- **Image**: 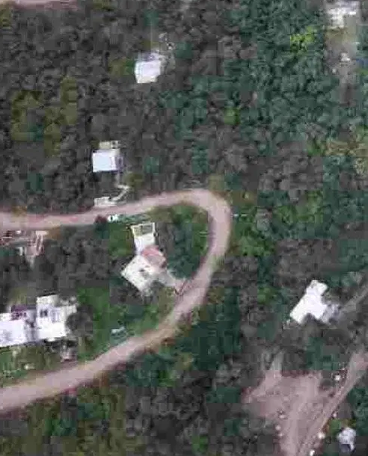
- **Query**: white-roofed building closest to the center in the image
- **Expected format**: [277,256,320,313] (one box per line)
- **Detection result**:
[121,222,167,293]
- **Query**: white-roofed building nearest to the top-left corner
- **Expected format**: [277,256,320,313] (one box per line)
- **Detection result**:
[134,51,175,82]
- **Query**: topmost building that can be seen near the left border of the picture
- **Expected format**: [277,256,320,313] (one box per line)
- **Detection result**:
[0,294,82,347]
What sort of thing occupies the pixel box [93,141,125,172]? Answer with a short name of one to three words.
house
